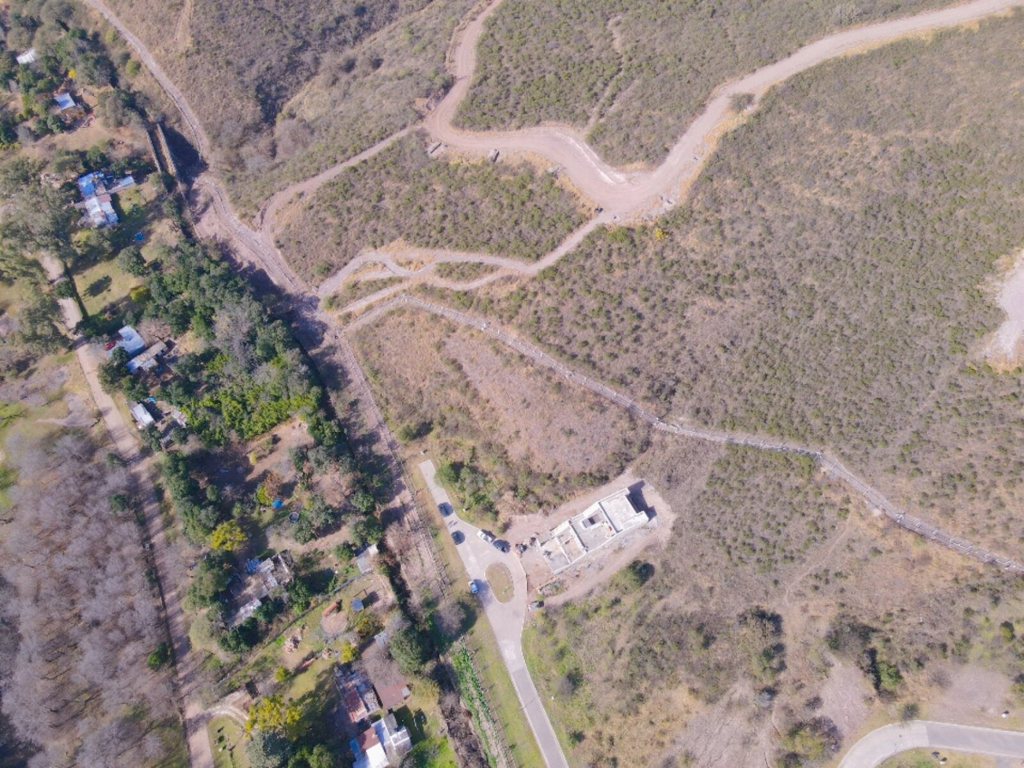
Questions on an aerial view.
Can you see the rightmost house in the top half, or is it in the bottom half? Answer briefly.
bottom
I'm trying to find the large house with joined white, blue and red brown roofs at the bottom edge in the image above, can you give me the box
[349,710,411,768]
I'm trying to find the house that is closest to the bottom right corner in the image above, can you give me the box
[536,485,648,574]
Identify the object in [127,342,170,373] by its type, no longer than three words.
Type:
shed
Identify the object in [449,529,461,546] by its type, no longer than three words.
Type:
vehicle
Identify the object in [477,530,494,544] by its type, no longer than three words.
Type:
vehicle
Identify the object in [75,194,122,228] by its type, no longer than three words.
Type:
house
